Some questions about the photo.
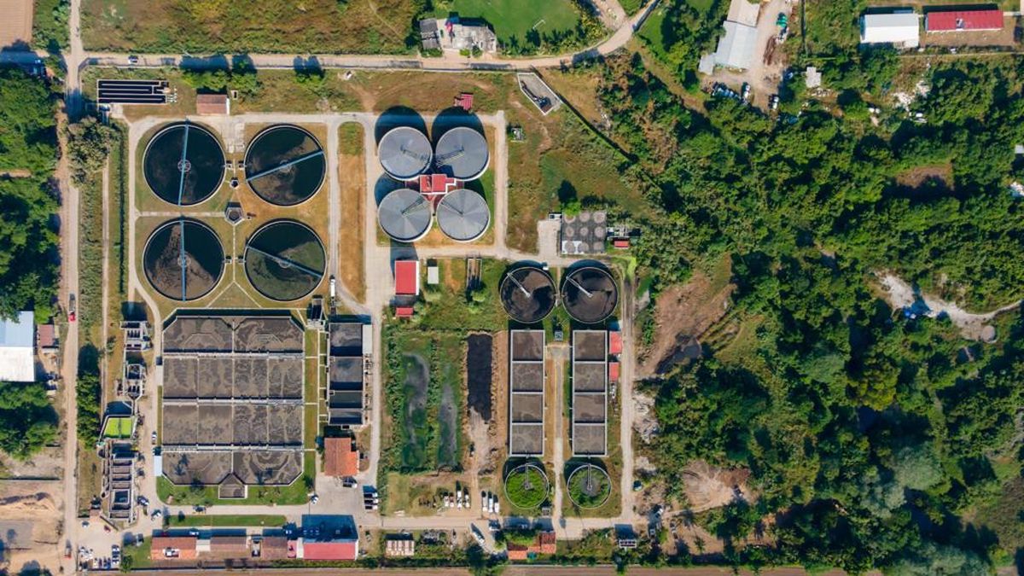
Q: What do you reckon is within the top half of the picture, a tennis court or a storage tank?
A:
storage tank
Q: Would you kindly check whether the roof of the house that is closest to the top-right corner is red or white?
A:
red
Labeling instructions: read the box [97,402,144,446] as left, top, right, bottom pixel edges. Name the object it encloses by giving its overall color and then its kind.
green storage tank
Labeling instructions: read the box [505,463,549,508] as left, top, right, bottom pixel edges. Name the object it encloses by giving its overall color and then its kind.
green storage tank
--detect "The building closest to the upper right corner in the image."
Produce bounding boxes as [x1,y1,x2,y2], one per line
[924,9,1004,33]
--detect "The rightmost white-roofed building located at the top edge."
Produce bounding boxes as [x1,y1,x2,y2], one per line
[861,14,921,49]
